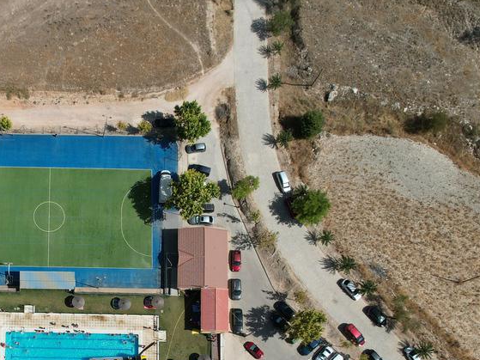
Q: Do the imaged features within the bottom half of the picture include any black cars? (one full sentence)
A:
Yes, there is a black car within the bottom half of the picture.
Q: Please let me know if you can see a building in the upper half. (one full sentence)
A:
No, no building appears in the upper half.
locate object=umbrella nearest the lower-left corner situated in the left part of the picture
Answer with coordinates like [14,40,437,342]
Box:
[72,297,85,309]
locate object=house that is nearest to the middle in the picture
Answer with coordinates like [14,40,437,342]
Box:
[177,228,229,291]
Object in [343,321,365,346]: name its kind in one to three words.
car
